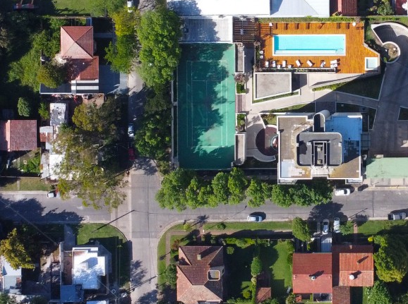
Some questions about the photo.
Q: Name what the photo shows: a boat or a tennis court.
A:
tennis court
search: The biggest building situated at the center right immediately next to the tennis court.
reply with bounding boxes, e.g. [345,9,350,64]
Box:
[277,111,370,184]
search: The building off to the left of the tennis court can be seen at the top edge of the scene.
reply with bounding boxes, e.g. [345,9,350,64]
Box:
[40,15,101,93]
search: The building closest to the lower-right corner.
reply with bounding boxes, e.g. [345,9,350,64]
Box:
[332,243,374,304]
